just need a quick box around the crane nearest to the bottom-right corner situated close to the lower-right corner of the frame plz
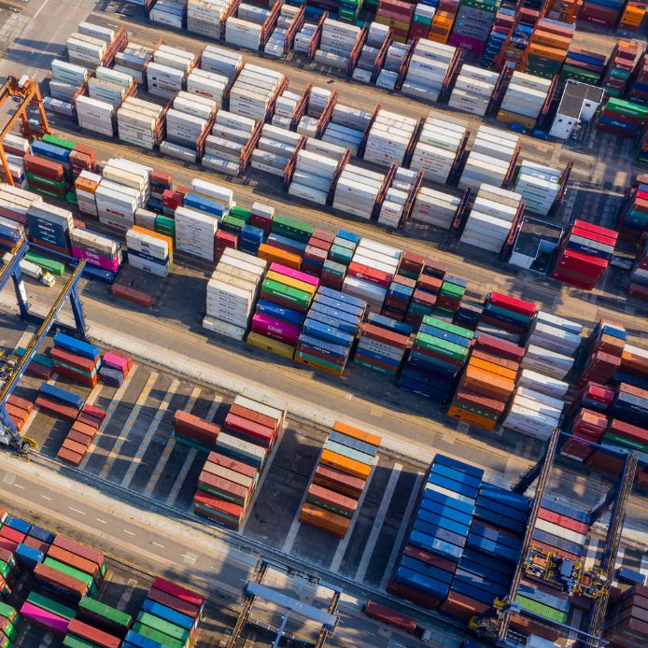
[466,425,638,648]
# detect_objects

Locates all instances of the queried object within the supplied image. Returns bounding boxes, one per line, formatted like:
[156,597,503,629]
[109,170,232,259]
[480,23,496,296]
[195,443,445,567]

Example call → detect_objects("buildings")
[509,217,563,269]
[549,79,605,141]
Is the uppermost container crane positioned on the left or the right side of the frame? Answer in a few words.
right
